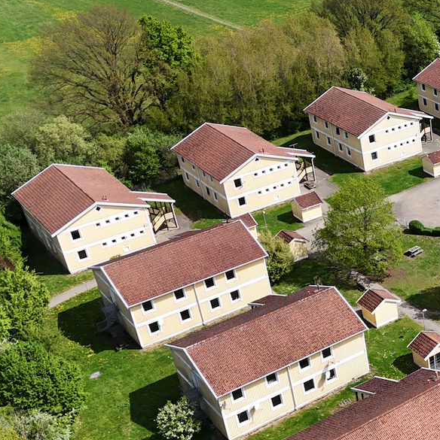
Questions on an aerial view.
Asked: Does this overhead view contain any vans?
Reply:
No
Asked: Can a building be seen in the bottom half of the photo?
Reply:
Yes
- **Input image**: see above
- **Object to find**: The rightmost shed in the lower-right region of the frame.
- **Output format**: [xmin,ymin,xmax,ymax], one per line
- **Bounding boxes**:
[407,326,440,368]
